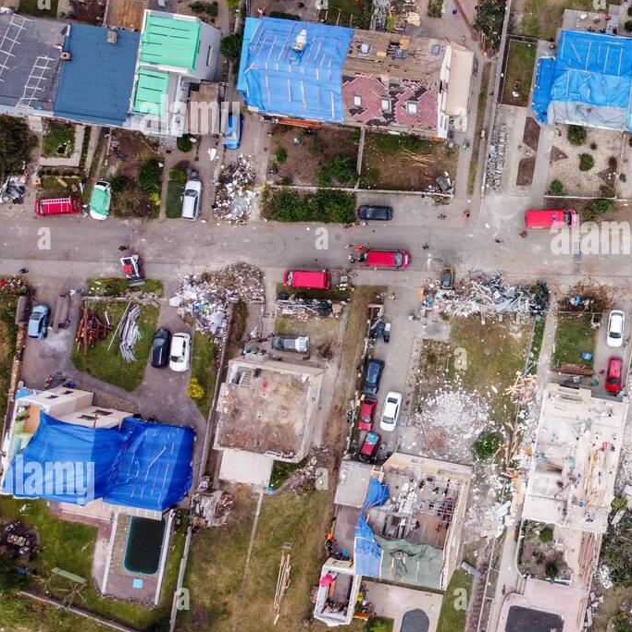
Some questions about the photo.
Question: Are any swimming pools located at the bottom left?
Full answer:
Yes, the scene does show a swimming pool at the bottom left.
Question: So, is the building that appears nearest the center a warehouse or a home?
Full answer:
In the photo, the building that appears nearest the center shows up as a home.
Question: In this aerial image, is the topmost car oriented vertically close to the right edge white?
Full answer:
Yes, the topmost car oriented vertically close to the right edge is indeed white.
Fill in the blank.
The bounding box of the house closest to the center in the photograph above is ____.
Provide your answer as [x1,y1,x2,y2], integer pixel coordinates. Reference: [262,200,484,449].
[215,352,335,459]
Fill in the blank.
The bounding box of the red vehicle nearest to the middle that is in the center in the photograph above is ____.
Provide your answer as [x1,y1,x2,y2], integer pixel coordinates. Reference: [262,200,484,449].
[281,268,329,291]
